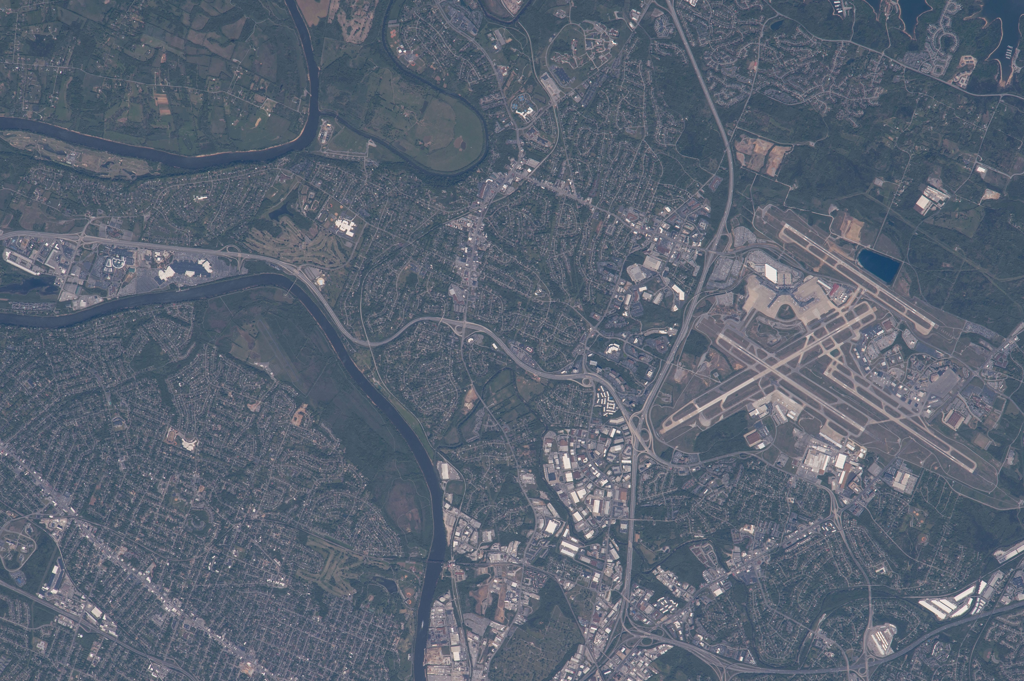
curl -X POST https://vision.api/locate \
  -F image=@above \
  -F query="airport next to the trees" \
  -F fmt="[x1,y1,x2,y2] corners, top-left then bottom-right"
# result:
[651,208,997,491]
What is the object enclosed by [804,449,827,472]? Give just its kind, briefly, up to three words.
building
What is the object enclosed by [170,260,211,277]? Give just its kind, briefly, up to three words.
building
